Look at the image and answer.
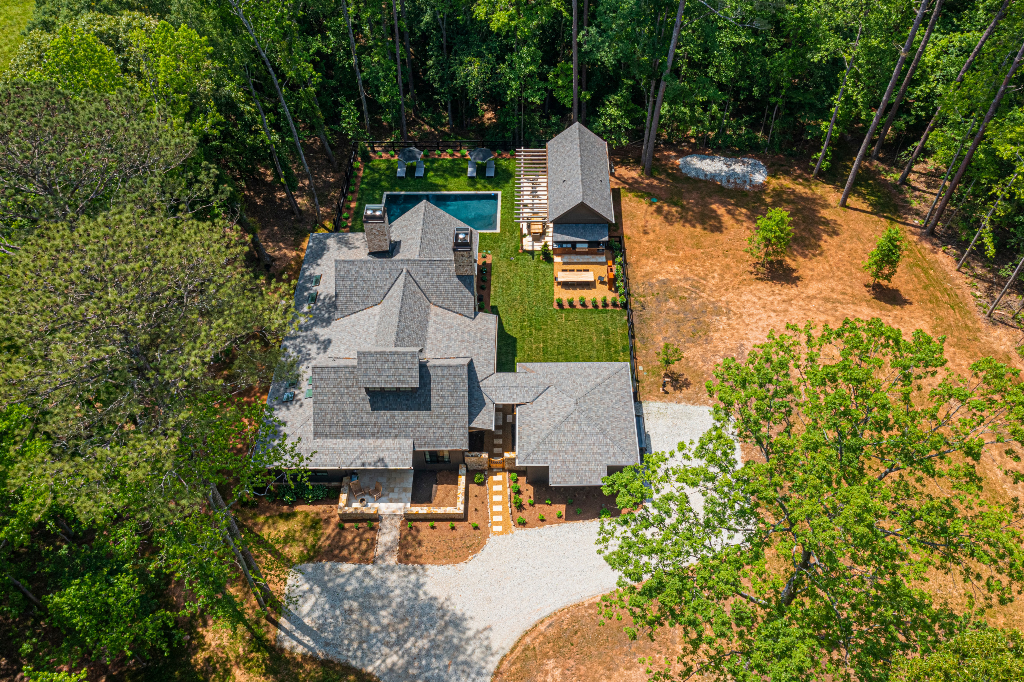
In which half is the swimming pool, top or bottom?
top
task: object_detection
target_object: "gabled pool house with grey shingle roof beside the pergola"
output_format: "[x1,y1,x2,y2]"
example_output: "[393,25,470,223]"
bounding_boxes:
[545,121,616,258]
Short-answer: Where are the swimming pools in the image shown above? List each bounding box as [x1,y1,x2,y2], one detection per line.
[382,191,501,232]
